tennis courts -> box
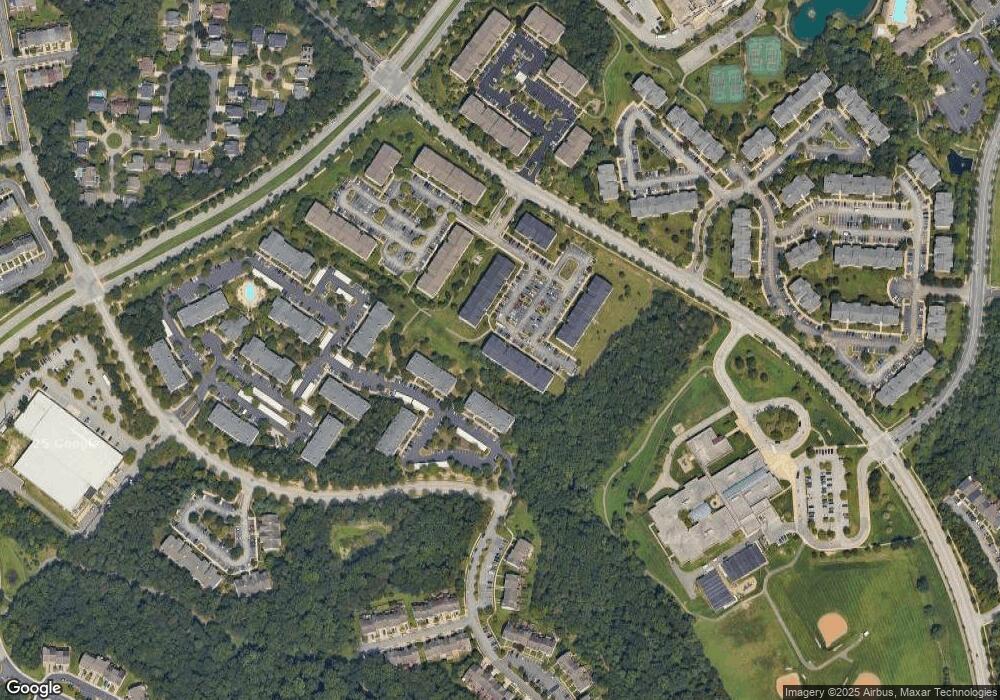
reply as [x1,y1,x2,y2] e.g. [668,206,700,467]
[747,37,765,75]
[710,66,728,103]
[764,37,781,75]
[728,66,744,103]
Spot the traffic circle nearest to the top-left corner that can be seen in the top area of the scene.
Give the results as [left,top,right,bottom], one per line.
[99,125,130,156]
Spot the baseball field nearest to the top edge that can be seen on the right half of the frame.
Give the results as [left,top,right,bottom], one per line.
[818,612,848,650]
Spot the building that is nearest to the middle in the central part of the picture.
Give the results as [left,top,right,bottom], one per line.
[481,334,554,391]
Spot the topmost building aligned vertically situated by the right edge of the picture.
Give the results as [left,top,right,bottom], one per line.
[935,192,952,229]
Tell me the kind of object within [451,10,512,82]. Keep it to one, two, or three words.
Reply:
building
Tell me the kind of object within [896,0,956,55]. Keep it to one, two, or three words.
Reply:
building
